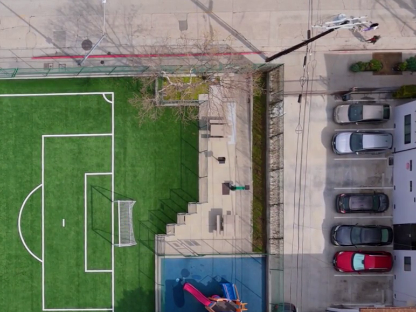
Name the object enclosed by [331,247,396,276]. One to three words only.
car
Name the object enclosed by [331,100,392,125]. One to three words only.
car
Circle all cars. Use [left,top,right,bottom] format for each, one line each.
[331,100,392,125]
[330,128,396,157]
[328,221,393,248]
[331,247,396,276]
[333,190,389,216]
